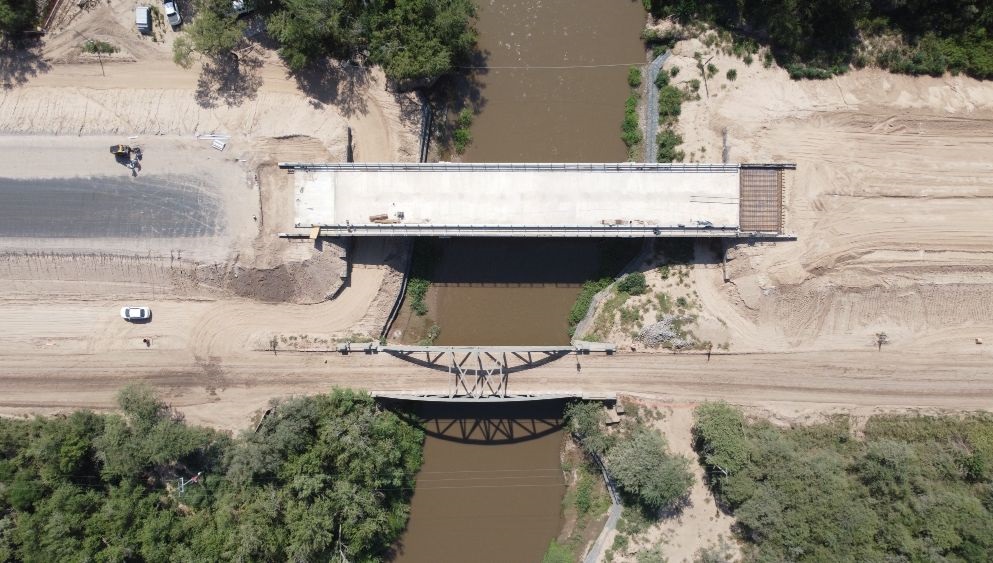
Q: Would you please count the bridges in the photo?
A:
two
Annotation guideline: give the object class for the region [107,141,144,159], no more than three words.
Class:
work vehicle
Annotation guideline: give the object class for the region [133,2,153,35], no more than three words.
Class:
vehicle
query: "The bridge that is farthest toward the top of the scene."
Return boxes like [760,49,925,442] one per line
[277,126,797,303]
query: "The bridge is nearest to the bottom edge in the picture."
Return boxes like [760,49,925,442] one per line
[339,341,616,403]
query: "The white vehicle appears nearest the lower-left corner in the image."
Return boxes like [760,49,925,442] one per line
[120,307,152,322]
